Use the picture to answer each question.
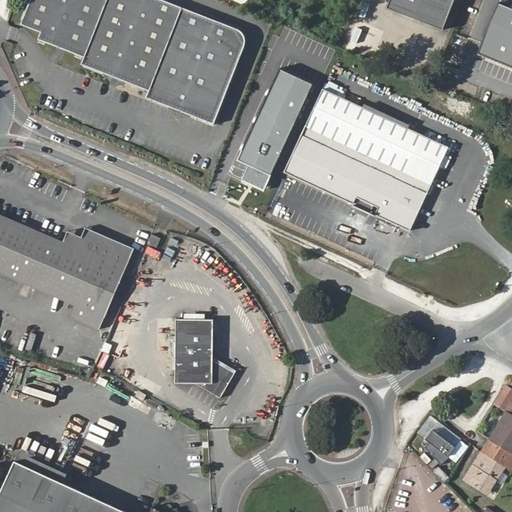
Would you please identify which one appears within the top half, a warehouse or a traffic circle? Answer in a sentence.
It is a warehouse that can be seen within the top half.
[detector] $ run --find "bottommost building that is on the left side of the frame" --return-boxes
[0,460,127,512]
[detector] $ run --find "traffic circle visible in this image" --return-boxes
[281,372,395,486]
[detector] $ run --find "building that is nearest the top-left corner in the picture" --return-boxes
[21,0,108,58]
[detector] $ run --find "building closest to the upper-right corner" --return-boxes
[478,3,512,70]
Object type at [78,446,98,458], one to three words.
vehicle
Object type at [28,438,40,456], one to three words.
vehicle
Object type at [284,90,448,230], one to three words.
warehouse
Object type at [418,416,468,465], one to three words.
house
